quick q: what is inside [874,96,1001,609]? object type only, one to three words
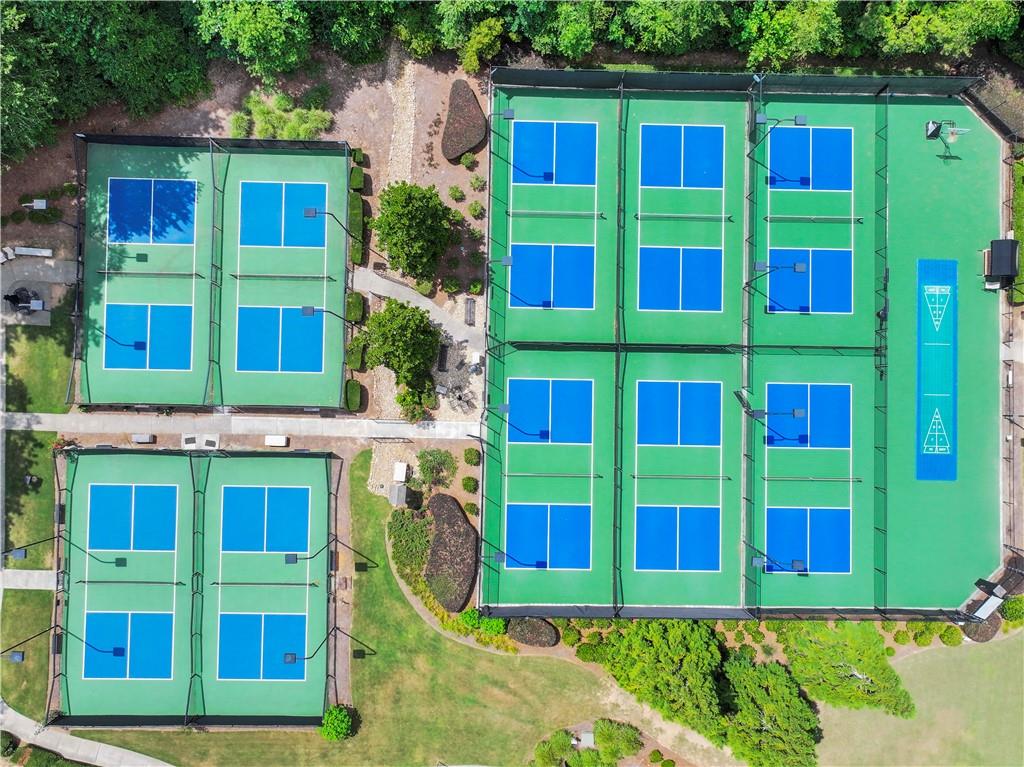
basketball court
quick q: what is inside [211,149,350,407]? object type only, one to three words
sports court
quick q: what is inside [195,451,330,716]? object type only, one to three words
sports court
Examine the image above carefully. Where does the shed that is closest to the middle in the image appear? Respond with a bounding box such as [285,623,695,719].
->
[386,483,405,508]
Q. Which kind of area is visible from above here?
sports ground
